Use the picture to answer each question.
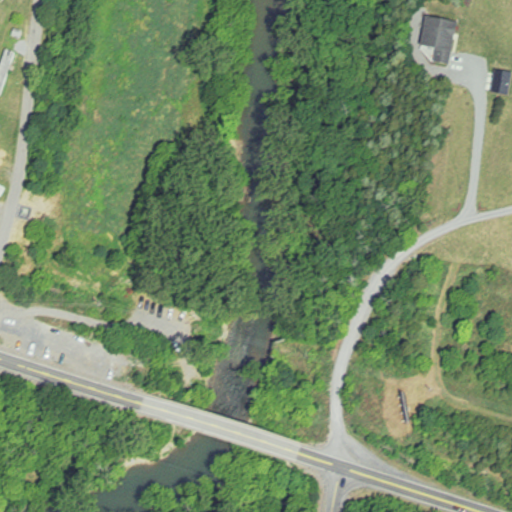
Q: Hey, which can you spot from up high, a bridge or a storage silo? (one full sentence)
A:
The one in the frame is a bridge.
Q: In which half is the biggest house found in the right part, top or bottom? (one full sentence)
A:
The top half of the photo is where the biggest house found in the right part is.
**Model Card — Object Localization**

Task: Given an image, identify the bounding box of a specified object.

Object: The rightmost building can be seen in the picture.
[492,70,510,93]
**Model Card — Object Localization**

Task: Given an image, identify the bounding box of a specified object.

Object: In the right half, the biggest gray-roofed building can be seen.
[419,14,456,66]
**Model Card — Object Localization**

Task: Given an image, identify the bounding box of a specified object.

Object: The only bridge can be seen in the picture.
[140,394,303,464]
